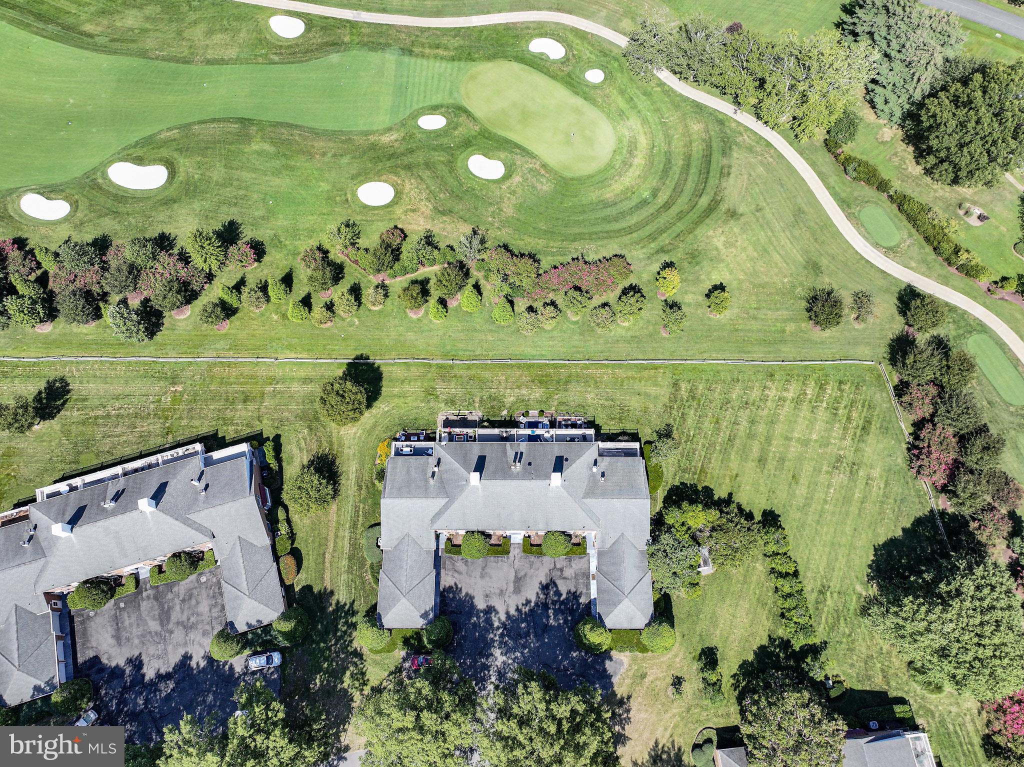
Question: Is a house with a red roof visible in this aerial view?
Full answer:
No, there's no house with a red roof here.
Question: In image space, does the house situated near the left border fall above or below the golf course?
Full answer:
Looking at the photo, you'll find the house situated near the left border below the golf course.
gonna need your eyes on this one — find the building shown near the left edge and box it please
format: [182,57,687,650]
[0,442,289,708]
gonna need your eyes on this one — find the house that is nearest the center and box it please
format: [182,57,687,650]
[377,428,655,628]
